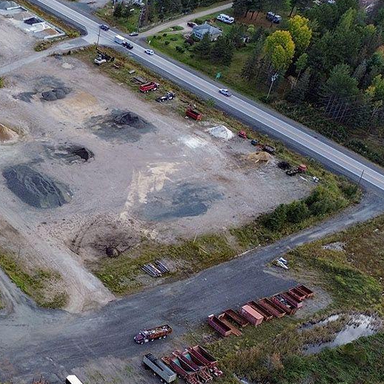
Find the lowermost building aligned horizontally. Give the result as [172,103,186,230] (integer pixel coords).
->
[189,26,227,44]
